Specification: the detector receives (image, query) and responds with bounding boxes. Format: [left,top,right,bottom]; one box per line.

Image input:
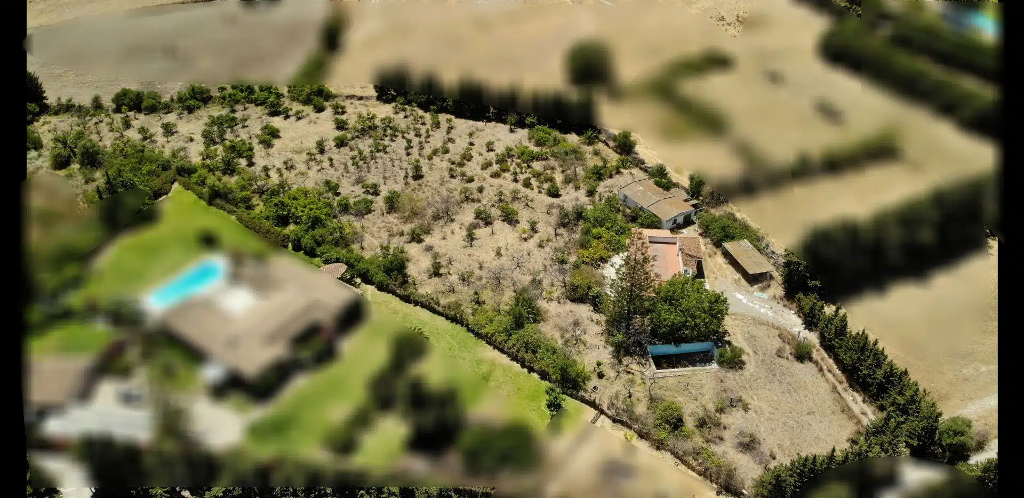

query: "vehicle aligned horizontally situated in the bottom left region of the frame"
[110,387,146,405]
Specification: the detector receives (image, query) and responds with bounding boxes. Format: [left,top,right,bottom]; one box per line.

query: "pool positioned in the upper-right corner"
[964,17,1002,30]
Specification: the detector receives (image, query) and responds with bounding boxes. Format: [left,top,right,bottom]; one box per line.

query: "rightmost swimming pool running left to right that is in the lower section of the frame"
[645,340,725,373]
